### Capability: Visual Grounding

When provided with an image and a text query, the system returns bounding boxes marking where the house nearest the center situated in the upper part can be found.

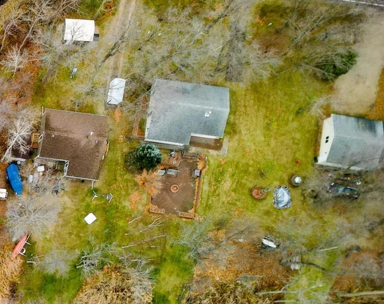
[132,78,230,159]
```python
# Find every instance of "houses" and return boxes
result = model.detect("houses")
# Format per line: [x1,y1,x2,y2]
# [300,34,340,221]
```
[314,113,384,172]
[132,78,230,159]
[31,106,108,189]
